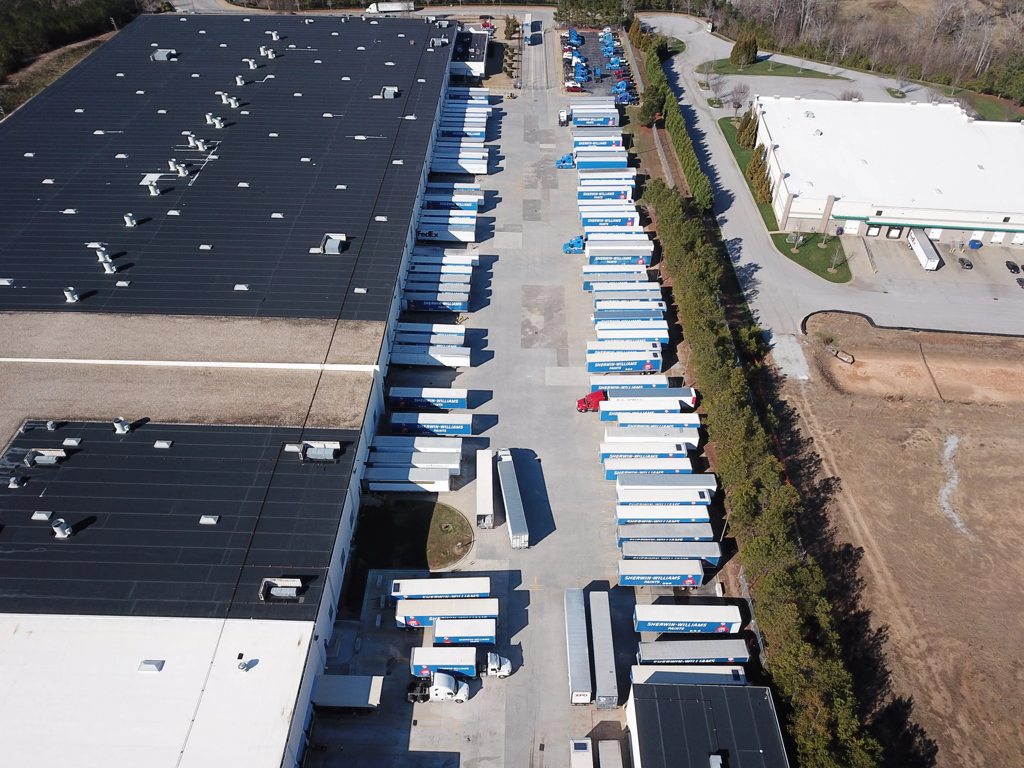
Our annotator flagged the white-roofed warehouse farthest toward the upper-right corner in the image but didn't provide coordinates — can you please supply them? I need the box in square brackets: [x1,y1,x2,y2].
[748,94,1024,246]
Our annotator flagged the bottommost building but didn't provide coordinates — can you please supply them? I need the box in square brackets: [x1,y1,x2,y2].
[628,684,789,768]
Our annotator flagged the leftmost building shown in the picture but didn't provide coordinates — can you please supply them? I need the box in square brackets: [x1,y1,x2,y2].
[0,13,455,768]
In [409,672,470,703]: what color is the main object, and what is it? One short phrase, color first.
white truck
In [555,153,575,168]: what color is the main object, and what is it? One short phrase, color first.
blue vehicle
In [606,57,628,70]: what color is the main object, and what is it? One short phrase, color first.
blue vehicle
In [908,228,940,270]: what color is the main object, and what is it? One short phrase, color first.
white trailer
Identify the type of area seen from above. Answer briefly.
industrial area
